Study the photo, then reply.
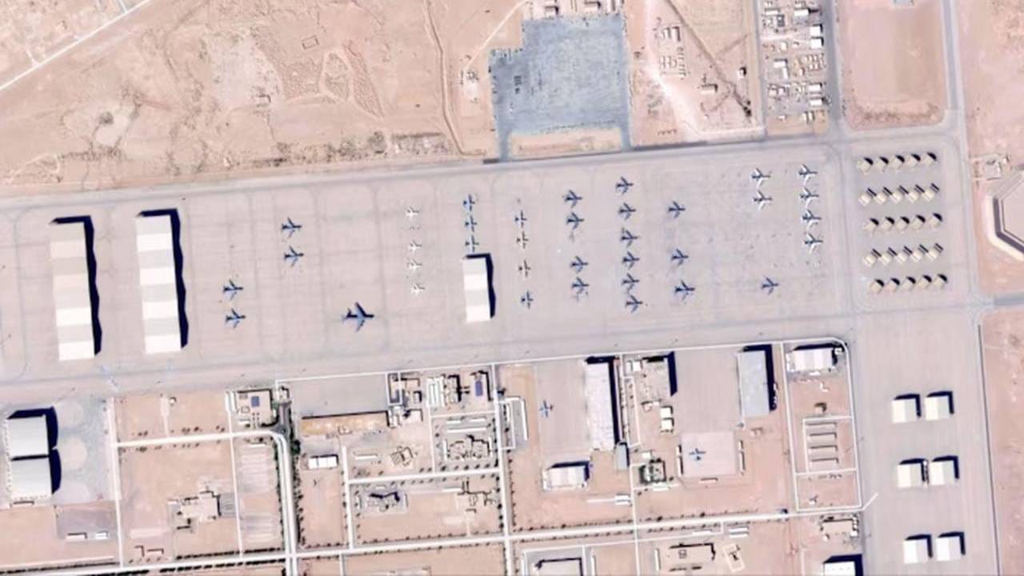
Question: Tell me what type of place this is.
airport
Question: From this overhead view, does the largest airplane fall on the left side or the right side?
left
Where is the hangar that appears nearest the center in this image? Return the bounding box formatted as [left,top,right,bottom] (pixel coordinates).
[462,257,491,322]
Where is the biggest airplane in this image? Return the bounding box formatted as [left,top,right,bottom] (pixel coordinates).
[342,305,371,332]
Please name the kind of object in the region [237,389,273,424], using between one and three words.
building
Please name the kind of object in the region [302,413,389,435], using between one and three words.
building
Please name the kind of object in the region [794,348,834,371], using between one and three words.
hangar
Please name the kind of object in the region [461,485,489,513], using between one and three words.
house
